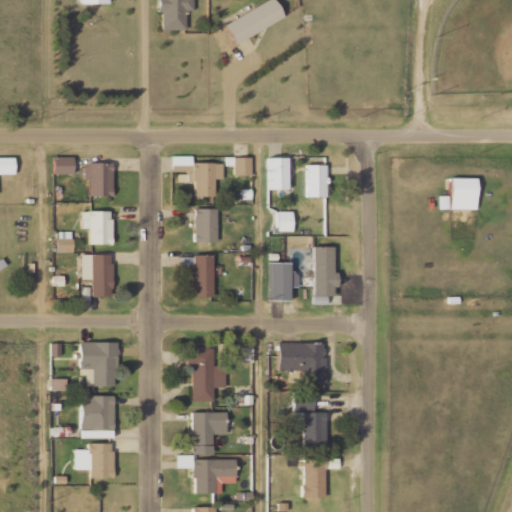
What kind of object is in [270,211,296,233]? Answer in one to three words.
building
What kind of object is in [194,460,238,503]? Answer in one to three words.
house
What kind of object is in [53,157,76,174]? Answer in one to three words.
building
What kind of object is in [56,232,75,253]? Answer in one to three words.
shed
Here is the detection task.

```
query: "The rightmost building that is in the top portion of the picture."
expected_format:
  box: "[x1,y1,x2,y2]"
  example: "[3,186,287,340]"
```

[438,178,482,210]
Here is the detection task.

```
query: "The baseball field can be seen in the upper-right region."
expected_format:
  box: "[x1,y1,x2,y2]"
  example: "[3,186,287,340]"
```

[434,0,512,92]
